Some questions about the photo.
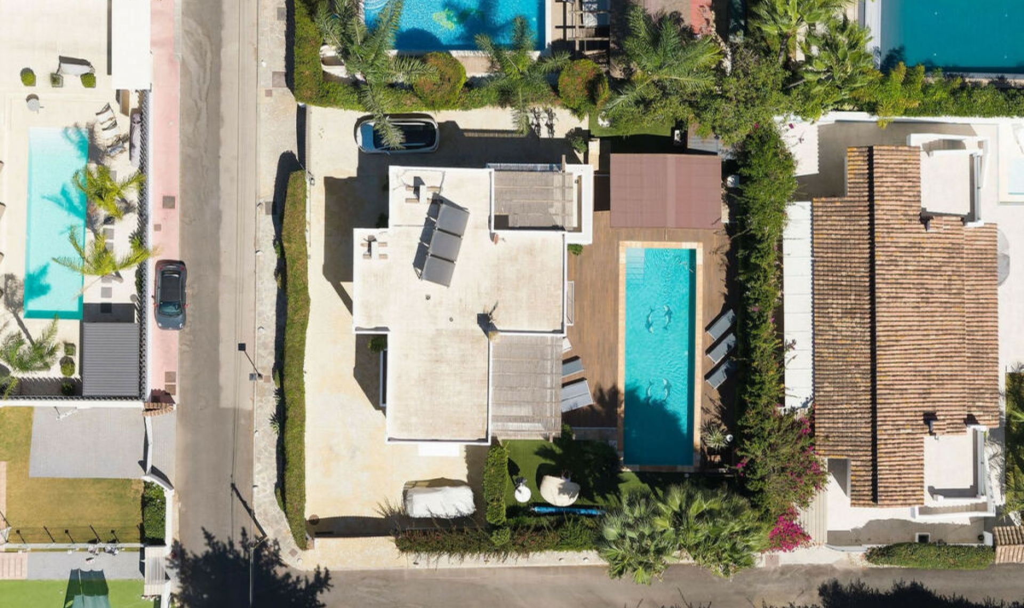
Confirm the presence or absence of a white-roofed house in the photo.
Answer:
Yes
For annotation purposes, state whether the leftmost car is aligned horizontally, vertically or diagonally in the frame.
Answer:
vertically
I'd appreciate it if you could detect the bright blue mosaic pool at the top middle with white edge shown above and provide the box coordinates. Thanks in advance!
[360,0,549,54]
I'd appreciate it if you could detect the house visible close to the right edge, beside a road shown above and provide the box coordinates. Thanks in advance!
[809,133,1000,522]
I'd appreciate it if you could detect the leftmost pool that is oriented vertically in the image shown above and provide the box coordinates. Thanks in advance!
[21,127,89,321]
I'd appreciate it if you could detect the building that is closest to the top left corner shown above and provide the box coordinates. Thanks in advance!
[111,0,158,91]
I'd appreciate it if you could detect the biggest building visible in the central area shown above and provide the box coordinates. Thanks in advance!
[353,164,593,457]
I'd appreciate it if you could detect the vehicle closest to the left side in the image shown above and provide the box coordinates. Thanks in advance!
[150,261,186,330]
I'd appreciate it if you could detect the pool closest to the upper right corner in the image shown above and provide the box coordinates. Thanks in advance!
[875,0,1024,76]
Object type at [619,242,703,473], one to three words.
swimming pool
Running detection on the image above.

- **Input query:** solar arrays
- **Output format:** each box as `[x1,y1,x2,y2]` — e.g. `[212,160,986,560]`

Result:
[420,204,470,287]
